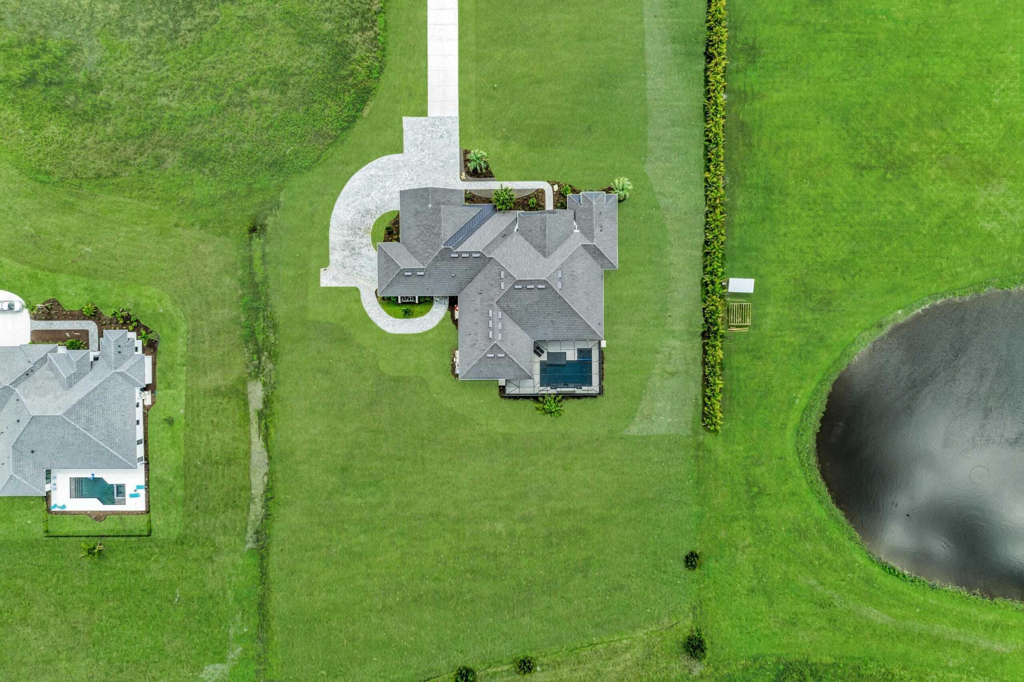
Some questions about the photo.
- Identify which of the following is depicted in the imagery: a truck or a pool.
pool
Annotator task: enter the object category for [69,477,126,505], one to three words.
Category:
swimming pool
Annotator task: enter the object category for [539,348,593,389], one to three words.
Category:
swimming pool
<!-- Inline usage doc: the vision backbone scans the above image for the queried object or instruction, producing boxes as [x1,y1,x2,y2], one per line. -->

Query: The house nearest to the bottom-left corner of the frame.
[0,330,152,496]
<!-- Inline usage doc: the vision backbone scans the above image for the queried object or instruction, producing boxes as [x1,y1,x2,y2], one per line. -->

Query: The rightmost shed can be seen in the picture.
[726,278,754,293]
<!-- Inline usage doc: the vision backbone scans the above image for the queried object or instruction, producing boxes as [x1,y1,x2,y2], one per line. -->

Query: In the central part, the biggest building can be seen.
[377,187,618,380]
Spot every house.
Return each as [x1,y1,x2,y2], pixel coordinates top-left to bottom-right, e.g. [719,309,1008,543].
[377,187,618,380]
[0,330,152,496]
